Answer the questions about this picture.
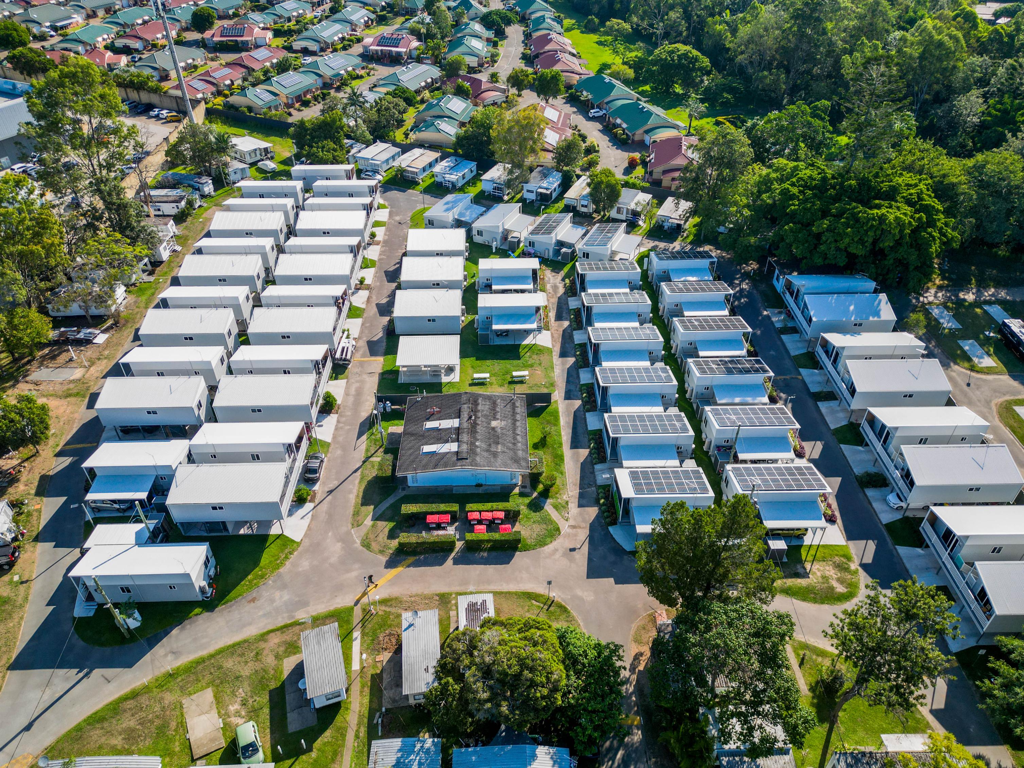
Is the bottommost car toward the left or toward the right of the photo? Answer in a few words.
left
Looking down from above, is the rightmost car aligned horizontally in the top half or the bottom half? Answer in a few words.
bottom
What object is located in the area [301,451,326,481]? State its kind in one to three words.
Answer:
car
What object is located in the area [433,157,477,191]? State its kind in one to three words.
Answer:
building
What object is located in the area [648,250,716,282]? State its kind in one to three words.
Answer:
building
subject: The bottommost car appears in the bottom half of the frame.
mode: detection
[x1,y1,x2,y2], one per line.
[234,714,263,766]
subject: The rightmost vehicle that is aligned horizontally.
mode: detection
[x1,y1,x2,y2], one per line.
[877,493,926,515]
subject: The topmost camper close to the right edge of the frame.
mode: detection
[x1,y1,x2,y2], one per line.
[1003,318,1024,357]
